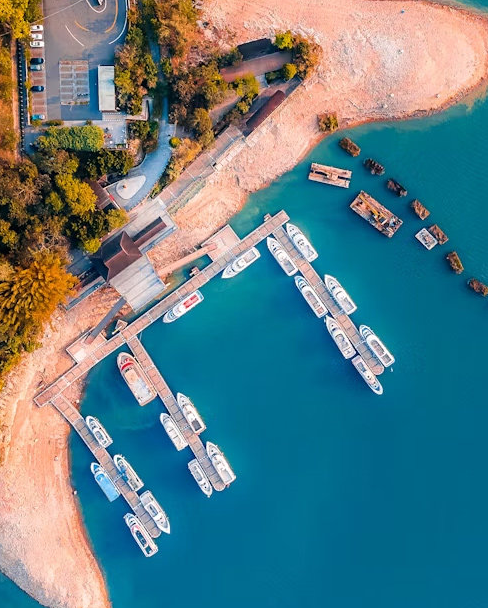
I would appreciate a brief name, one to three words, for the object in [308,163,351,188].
ship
